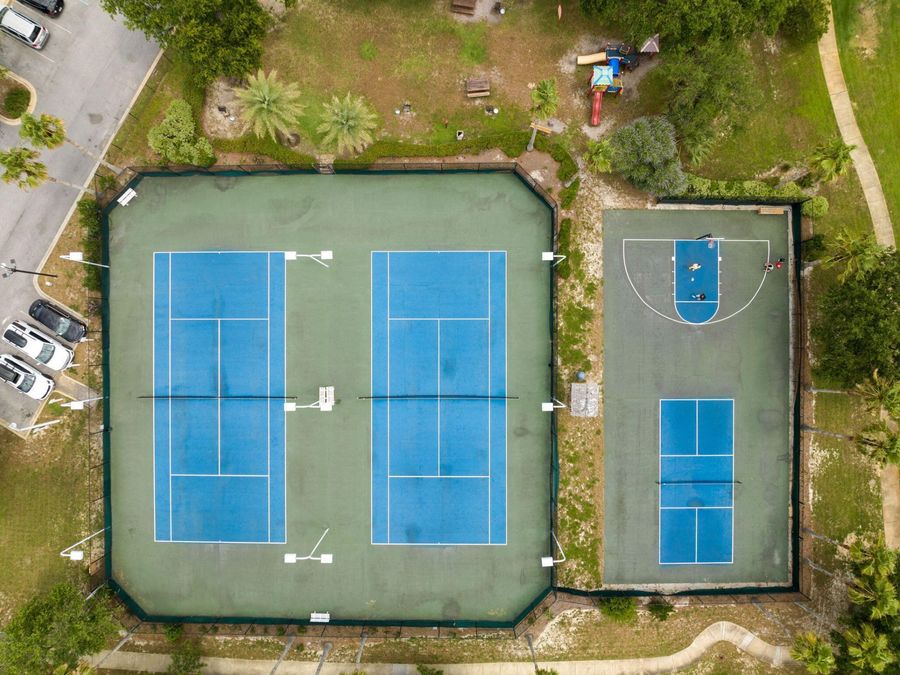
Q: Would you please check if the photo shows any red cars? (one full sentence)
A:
No, there is no red car in the image.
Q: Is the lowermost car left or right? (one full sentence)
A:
You can find the lowermost car on the left side of the picture.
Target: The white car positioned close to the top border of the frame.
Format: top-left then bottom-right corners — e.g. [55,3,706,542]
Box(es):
[0,8,51,52]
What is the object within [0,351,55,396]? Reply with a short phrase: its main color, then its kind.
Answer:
white car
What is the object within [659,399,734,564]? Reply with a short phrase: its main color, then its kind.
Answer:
blue sports court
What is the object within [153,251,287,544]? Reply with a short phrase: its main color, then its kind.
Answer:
blue tennis court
